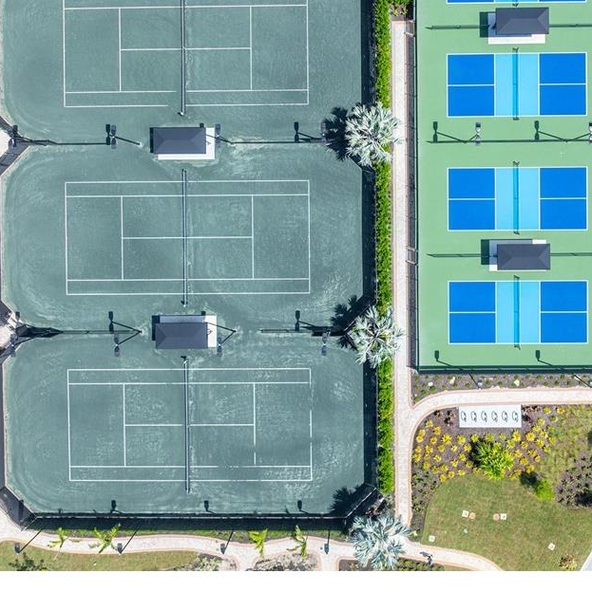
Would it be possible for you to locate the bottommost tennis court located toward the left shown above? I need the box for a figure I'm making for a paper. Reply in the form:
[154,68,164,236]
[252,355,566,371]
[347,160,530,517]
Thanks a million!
[4,332,376,517]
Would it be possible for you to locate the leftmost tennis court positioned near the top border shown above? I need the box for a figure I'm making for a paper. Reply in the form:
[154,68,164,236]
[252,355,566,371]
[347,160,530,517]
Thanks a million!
[0,0,374,143]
